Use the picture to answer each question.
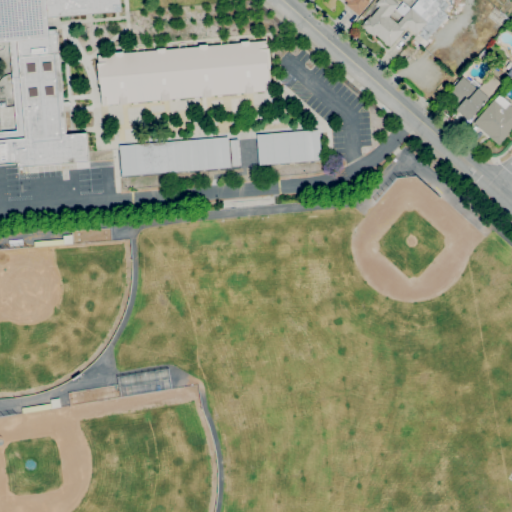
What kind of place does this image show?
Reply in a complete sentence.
The picture captures a sports ground.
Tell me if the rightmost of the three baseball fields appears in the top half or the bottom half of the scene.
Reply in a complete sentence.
Seen from above, the rightmost of the three baseball fields lies in the bottom half of the view.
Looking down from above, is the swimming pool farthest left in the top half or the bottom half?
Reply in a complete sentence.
Seen from above, the swimming pool farthest left lies in the top half of the view.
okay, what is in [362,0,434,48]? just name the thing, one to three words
house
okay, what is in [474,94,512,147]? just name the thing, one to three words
house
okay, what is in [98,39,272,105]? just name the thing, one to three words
building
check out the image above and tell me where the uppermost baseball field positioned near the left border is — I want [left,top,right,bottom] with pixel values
[0,240,131,398]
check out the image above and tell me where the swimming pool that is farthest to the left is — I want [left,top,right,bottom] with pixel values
[464,66,491,87]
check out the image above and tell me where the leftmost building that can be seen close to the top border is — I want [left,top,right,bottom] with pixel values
[0,0,121,168]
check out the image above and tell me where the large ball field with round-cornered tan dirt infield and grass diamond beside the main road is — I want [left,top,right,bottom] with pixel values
[116,175,512,512]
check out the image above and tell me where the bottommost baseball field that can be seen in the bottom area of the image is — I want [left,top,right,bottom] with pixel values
[0,387,217,512]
